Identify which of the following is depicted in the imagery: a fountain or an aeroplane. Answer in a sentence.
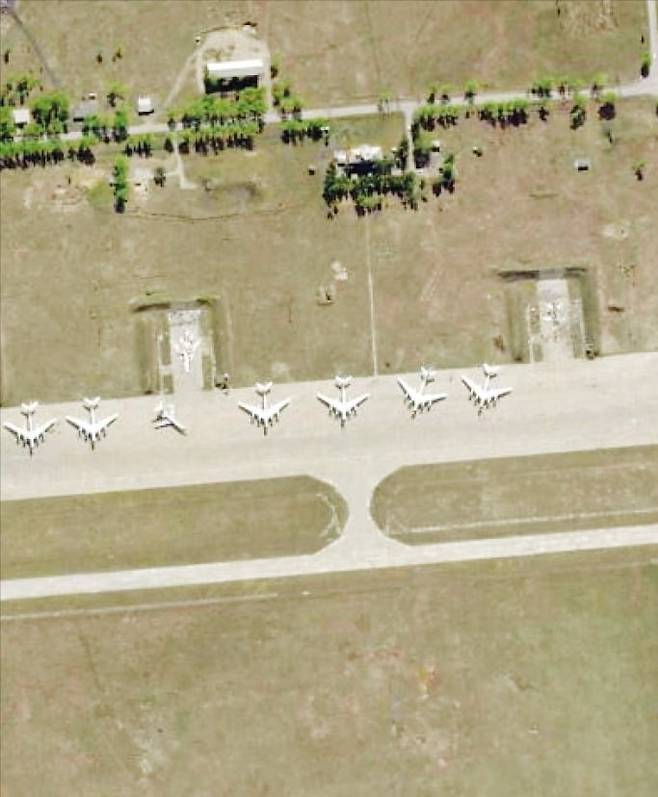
I can see an aeroplane in this picture.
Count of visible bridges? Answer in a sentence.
There are no bridges in this view.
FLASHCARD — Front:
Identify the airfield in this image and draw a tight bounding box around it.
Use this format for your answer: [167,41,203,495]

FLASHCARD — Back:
[0,277,658,600]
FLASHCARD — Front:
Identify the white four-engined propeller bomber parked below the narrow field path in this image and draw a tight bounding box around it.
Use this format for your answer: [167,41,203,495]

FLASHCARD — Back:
[317,375,369,424]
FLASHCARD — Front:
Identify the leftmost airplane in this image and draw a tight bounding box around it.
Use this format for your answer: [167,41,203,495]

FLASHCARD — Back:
[4,402,56,451]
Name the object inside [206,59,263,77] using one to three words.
barn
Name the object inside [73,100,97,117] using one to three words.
house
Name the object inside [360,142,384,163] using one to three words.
house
